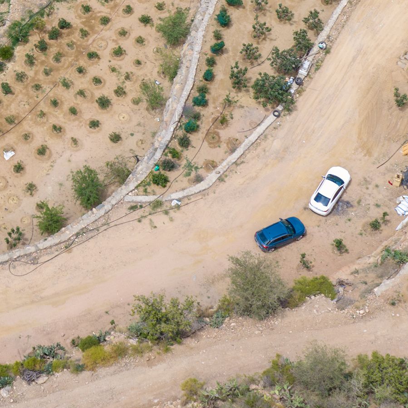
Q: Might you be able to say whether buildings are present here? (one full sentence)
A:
No, there isn't any building down there.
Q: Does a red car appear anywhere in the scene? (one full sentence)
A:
No, the frame has no red car in it.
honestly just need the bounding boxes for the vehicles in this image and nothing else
[255,216,307,251]
[312,166,351,216]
